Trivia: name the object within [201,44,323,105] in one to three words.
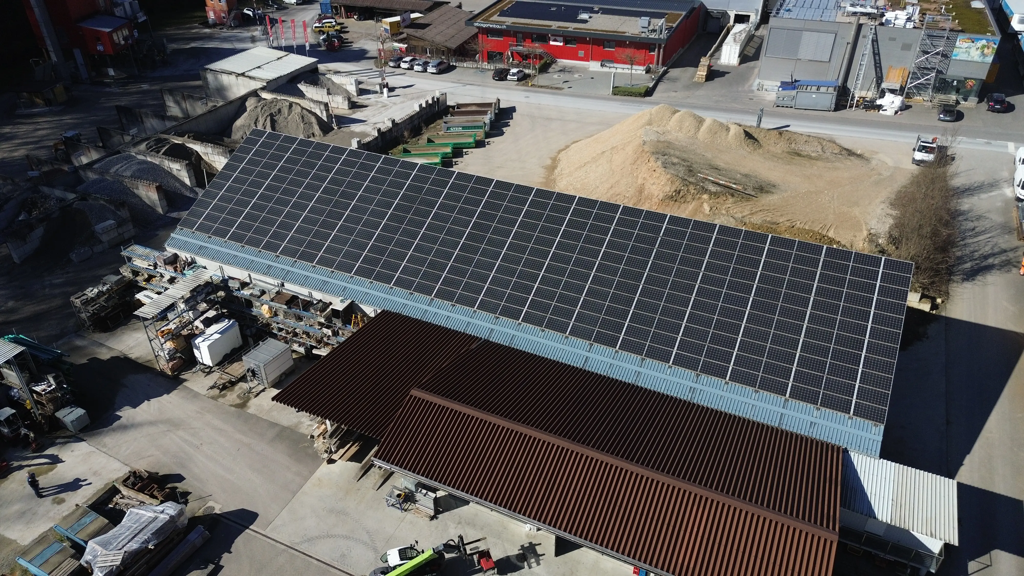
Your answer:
shed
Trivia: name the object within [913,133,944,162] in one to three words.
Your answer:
truck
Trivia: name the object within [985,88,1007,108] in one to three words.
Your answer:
car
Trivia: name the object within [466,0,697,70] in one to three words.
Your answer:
building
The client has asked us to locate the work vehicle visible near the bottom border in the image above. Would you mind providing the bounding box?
[372,529,494,576]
